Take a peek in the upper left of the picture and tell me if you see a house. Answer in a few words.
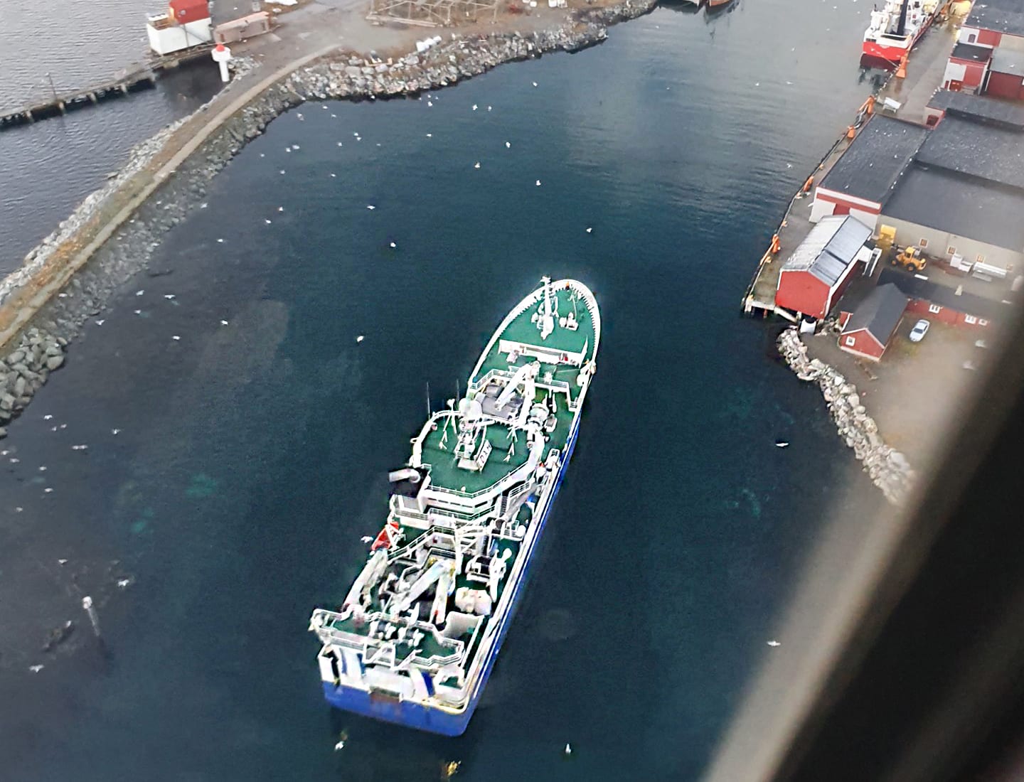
Yes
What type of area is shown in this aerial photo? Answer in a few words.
port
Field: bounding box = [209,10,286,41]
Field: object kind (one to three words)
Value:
shed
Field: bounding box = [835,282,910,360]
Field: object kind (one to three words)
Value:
house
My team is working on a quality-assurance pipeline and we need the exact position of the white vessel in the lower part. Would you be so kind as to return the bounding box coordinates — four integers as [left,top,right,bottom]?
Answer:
[308,267,597,740]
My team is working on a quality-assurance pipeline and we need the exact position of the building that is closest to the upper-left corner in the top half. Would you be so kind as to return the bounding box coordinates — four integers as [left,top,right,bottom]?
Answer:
[135,0,213,55]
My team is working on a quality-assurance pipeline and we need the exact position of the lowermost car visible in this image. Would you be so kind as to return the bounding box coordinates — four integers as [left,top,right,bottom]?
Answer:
[907,318,933,340]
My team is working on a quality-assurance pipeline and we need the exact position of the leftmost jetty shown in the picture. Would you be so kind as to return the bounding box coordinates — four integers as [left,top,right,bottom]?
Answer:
[0,65,153,130]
